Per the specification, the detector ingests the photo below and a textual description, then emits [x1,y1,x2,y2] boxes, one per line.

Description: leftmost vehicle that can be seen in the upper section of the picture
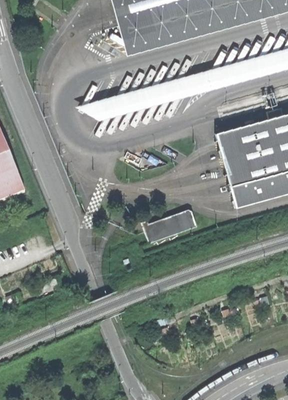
[79,81,98,107]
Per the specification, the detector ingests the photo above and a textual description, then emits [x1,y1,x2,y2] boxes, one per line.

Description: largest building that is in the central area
[142,210,197,244]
